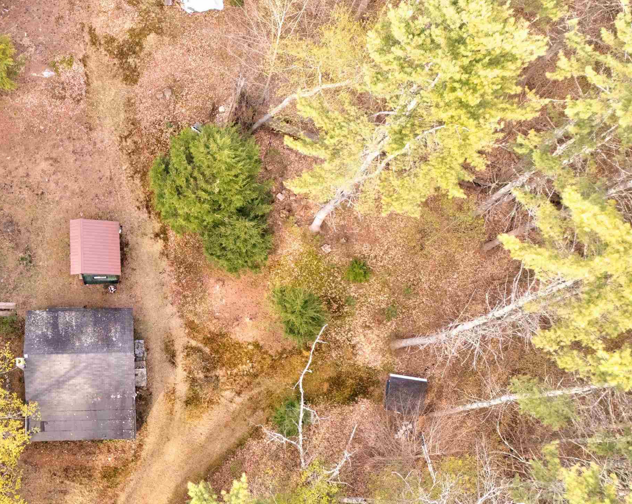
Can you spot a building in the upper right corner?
No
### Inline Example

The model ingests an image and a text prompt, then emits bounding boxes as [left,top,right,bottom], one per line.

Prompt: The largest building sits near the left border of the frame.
[10,306,136,442]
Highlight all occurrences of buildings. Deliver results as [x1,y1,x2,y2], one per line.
[70,217,126,282]
[381,372,428,415]
[10,306,136,442]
